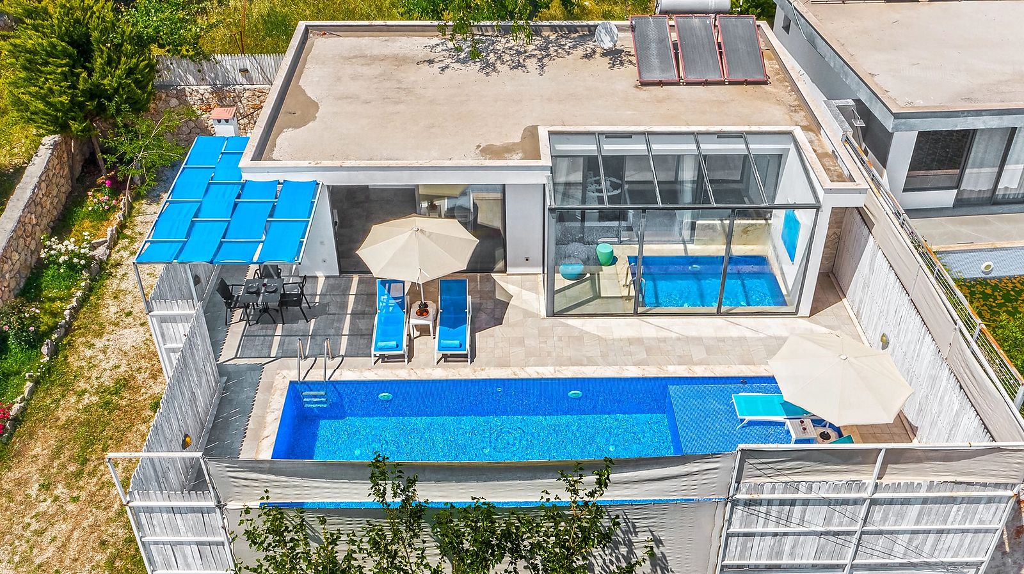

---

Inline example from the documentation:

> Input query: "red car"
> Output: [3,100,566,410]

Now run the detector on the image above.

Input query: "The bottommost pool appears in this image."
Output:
[229,365,872,551]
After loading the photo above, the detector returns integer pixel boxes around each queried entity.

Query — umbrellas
[766,329,914,439]
[355,212,481,315]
